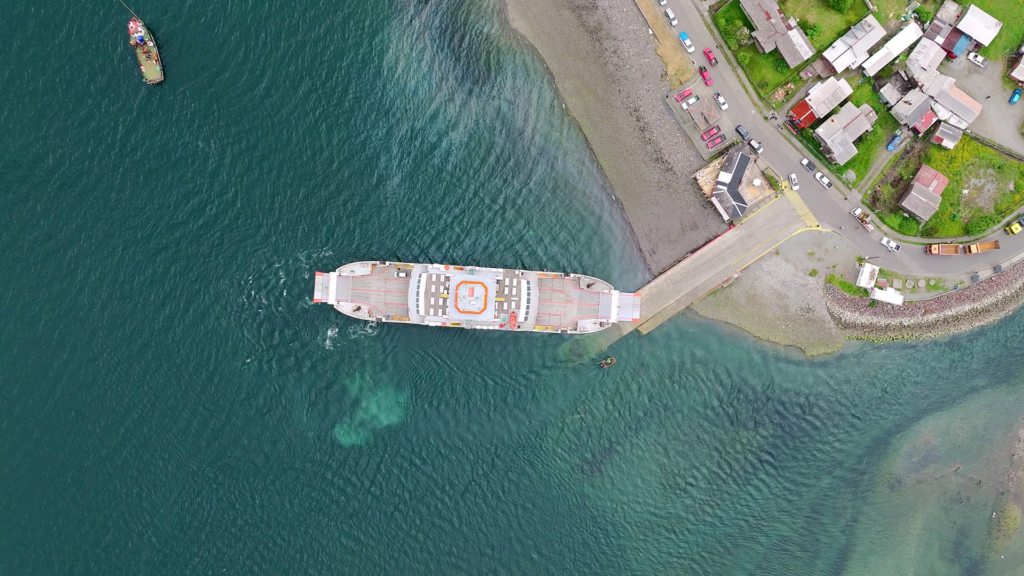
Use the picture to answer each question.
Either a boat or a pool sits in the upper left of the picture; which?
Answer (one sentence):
There is a boat in the upper left of the picture.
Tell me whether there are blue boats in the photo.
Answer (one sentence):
No, no blue boat is visible in the scene.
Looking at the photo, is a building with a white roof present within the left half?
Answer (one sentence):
No, no building with a white roof is visible within the left half.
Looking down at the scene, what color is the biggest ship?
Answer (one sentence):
The color of the biggest ship is white.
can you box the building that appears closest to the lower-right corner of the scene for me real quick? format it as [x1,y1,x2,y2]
[867,287,904,305]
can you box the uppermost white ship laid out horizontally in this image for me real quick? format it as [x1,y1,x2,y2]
[313,260,640,334]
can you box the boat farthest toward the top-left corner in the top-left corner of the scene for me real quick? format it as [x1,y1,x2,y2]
[128,17,165,84]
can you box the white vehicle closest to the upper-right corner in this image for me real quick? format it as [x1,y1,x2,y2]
[967,54,989,68]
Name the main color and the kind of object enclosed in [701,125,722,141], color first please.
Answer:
red vehicle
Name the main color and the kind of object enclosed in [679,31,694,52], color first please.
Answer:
white vehicle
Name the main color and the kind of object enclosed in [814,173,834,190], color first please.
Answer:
white vehicle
